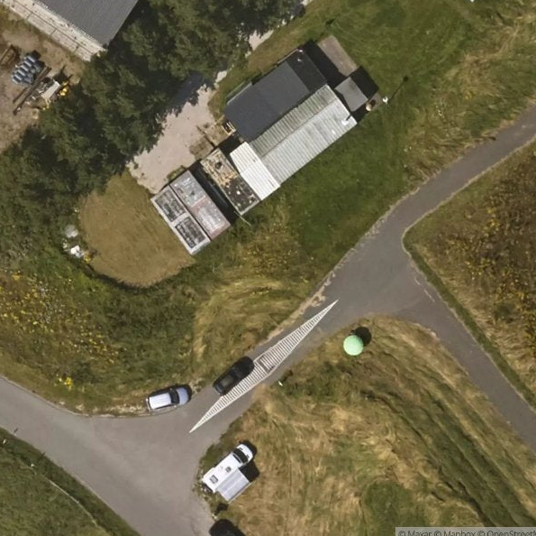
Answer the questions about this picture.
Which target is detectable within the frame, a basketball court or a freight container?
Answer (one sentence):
I can see a freight container in this picture.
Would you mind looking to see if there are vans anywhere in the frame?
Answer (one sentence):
Yes, a van can be made out from above.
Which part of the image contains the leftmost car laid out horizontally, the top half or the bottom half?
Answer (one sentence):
The leftmost car laid out horizontally is in the bottom half of the image.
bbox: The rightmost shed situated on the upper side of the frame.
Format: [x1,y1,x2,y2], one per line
[335,76,369,113]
